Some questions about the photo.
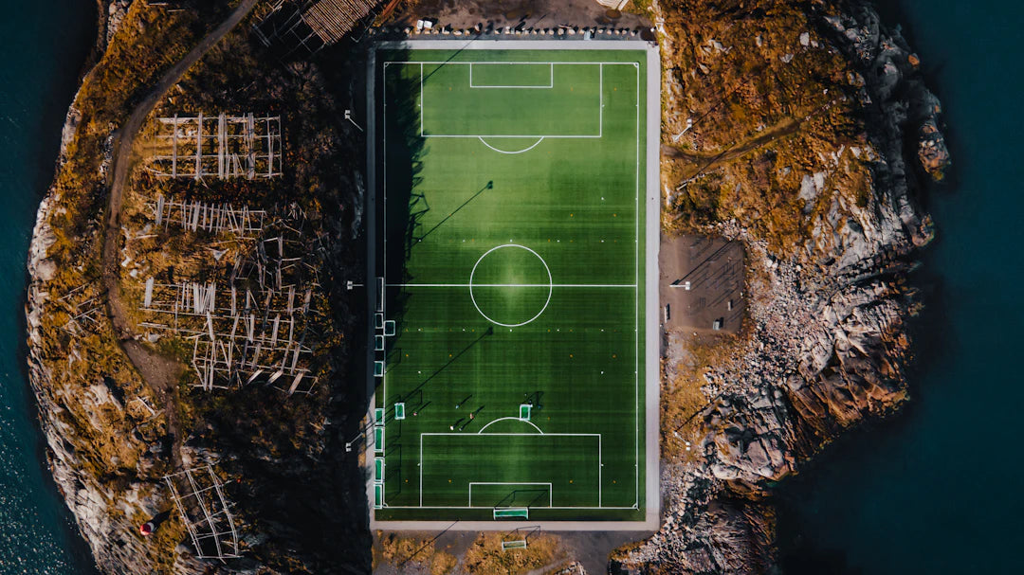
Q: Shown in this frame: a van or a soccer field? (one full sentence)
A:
Visible in the photo is a soccer field.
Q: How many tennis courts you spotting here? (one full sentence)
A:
The picture shows no tennis courts.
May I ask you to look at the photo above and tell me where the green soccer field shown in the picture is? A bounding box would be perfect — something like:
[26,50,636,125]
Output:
[376,49,647,521]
